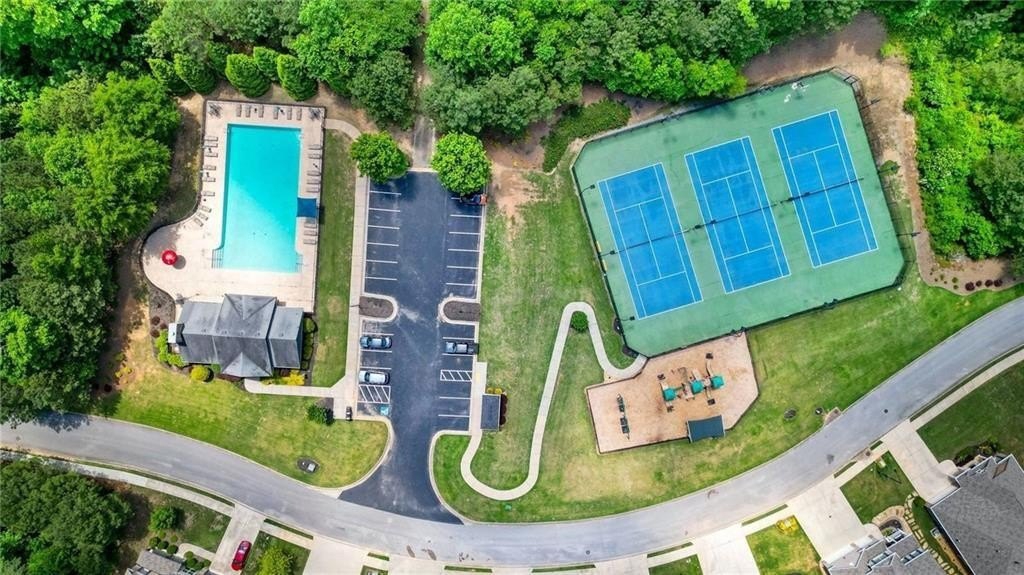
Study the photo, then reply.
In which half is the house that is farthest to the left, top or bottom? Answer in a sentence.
The bottom half of the photo is where the house that is farthest to the left is.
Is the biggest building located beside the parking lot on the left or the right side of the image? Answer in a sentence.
It is on the left.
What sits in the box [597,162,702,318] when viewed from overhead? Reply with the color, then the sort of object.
blue tennis court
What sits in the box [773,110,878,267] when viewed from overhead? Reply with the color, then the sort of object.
blue tennis court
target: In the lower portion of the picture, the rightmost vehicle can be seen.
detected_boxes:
[446,341,478,356]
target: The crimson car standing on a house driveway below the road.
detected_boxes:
[231,540,252,571]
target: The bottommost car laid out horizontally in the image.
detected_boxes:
[359,371,390,385]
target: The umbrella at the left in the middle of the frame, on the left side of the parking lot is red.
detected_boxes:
[162,250,179,265]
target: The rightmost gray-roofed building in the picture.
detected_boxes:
[924,450,1024,575]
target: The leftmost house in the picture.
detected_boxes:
[119,546,190,575]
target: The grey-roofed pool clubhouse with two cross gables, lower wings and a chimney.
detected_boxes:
[166,295,309,377]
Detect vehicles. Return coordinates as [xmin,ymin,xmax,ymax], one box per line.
[446,341,478,356]
[346,407,351,421]
[361,335,392,349]
[231,540,252,571]
[359,371,390,385]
